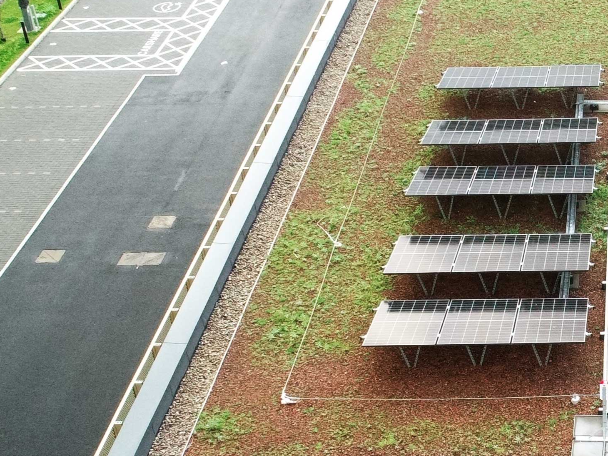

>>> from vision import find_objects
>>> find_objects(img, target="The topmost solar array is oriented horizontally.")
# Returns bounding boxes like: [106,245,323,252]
[433,69,604,109]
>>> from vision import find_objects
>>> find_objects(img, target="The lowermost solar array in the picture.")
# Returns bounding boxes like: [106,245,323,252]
[358,301,593,364]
